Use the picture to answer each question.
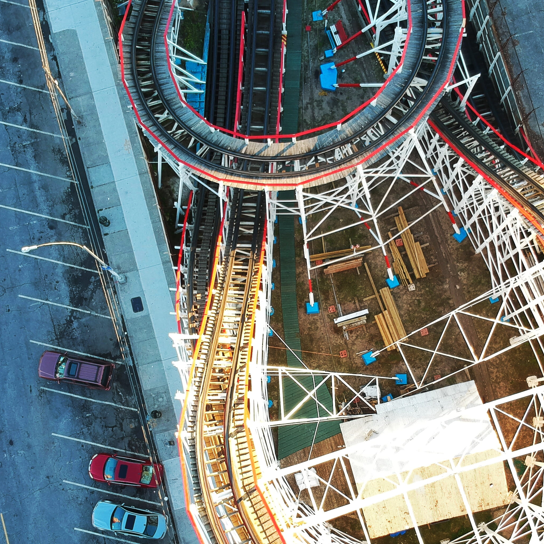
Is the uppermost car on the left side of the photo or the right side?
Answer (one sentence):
The uppermost car sits on the left side.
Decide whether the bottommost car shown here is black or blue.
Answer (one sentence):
The bottommost car looks blue in the image.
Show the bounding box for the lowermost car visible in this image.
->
[93,503,169,540]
